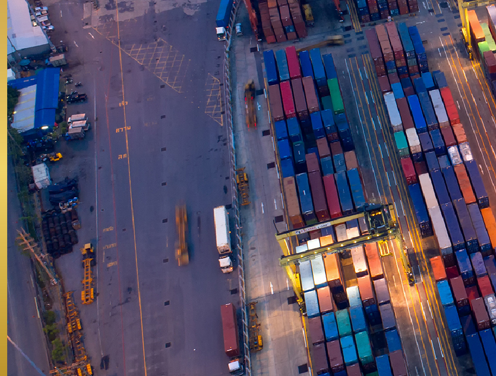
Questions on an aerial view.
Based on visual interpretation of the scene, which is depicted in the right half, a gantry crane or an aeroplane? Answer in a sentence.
The one visible in the right half is a gantry crane.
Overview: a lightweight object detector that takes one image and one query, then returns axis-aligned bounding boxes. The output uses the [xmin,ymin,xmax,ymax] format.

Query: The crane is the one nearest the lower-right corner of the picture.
[268,194,415,318]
